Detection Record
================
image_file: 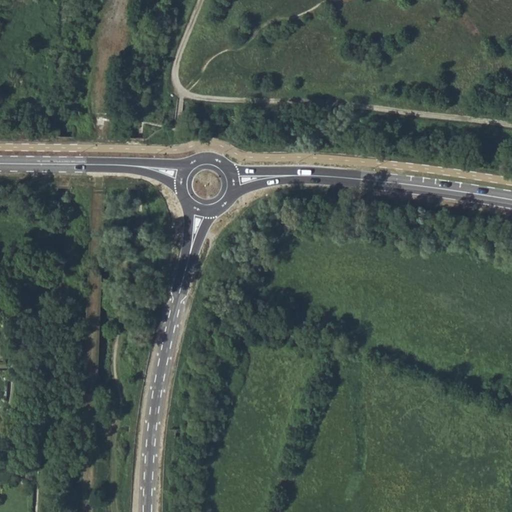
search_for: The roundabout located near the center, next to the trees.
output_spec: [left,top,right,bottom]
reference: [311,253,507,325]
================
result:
[86,152,362,292]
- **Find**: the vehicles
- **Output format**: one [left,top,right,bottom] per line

[477,189,488,194]
[75,165,85,170]
[440,182,450,187]
[245,168,254,174]
[311,178,321,183]
[268,179,278,184]
[298,169,312,174]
